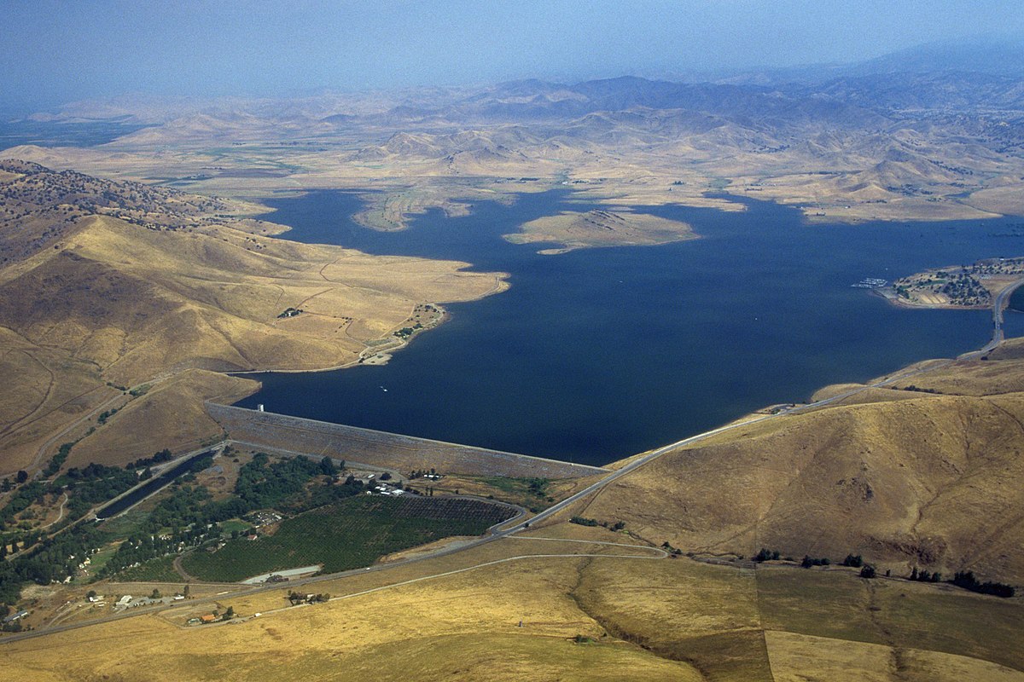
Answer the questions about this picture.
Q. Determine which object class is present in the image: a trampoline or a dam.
dam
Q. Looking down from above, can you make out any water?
Yes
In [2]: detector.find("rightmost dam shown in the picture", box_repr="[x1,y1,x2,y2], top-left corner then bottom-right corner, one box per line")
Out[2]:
[205,401,606,480]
